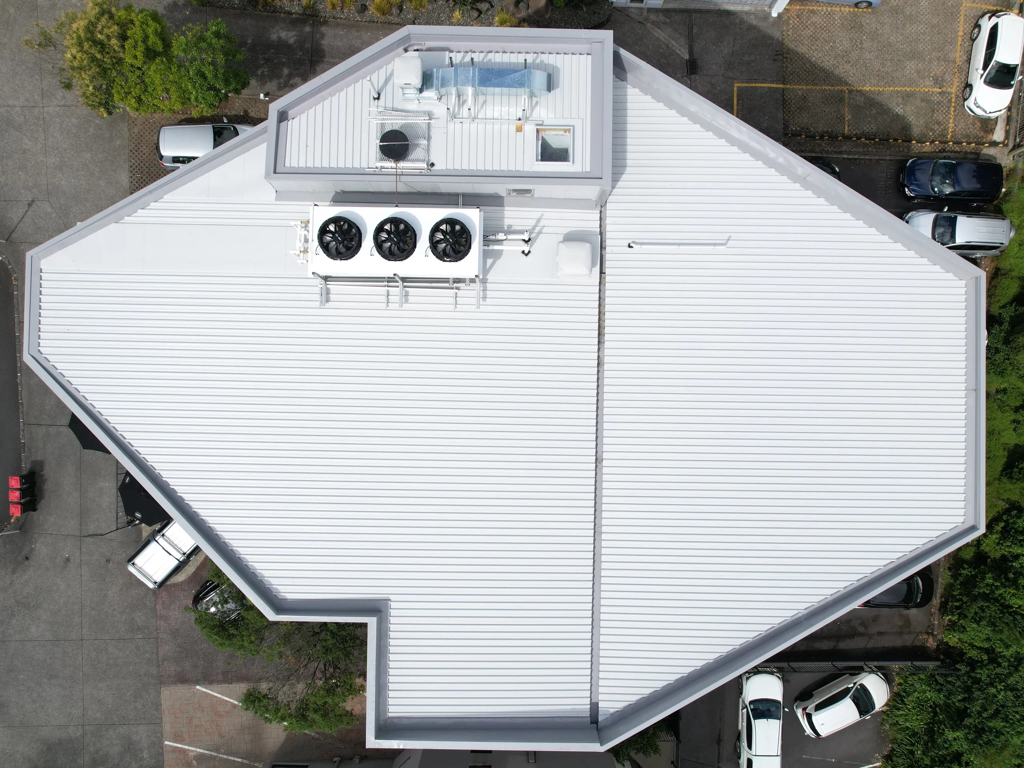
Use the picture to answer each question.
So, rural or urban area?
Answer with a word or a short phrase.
urban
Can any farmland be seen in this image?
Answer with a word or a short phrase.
No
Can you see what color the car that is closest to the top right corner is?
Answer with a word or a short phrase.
white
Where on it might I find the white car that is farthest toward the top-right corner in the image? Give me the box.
[963,13,1024,122]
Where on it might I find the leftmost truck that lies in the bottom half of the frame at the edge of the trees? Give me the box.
[119,517,203,592]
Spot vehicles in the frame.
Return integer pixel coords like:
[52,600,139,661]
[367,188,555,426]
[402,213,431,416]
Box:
[901,201,1023,258]
[896,150,1015,207]
[119,517,203,592]
[154,119,252,171]
[963,13,1024,122]
[789,0,879,11]
[735,671,793,768]
[794,670,894,742]
[808,156,843,185]
[854,567,934,615]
